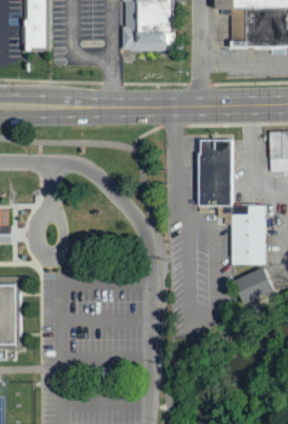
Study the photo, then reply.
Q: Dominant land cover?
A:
paved ground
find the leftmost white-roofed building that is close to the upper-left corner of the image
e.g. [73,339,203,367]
[26,0,50,53]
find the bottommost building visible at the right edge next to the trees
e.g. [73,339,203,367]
[236,266,278,305]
